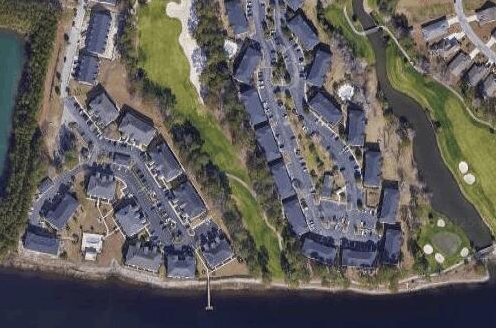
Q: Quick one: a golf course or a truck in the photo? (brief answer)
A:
golf course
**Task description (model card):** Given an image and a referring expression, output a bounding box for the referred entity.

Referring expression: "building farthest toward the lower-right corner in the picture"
[382,228,401,265]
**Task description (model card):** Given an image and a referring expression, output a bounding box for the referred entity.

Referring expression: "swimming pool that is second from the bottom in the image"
[338,85,354,101]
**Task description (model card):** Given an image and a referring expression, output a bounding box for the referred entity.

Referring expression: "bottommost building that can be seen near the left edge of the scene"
[24,231,60,256]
